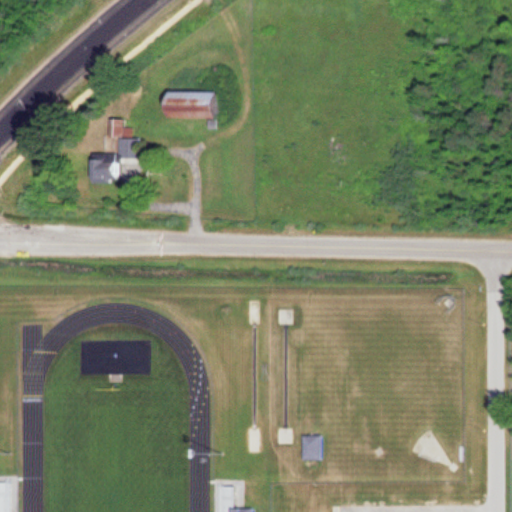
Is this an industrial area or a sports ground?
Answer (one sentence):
The area seen from above is a sports ground.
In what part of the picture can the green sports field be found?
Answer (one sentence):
The green sports field appears toward the bottom left of the photo.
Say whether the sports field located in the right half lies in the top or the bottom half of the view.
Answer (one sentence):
The sports field located in the right half is in the bottom half of the image.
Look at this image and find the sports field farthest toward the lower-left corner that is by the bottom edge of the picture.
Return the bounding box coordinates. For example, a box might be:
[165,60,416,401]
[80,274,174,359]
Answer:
[44,324,189,512]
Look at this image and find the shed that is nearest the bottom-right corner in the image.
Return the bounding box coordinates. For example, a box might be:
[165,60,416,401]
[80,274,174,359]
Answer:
[302,435,326,460]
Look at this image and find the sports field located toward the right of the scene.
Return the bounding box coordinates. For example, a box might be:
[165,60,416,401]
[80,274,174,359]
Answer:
[272,289,462,481]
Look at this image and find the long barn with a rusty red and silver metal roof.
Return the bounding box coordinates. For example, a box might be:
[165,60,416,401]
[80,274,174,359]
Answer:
[160,91,218,119]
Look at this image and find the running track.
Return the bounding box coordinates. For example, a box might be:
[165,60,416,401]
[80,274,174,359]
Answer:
[23,303,210,512]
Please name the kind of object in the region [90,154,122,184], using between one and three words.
house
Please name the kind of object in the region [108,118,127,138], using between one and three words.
shed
